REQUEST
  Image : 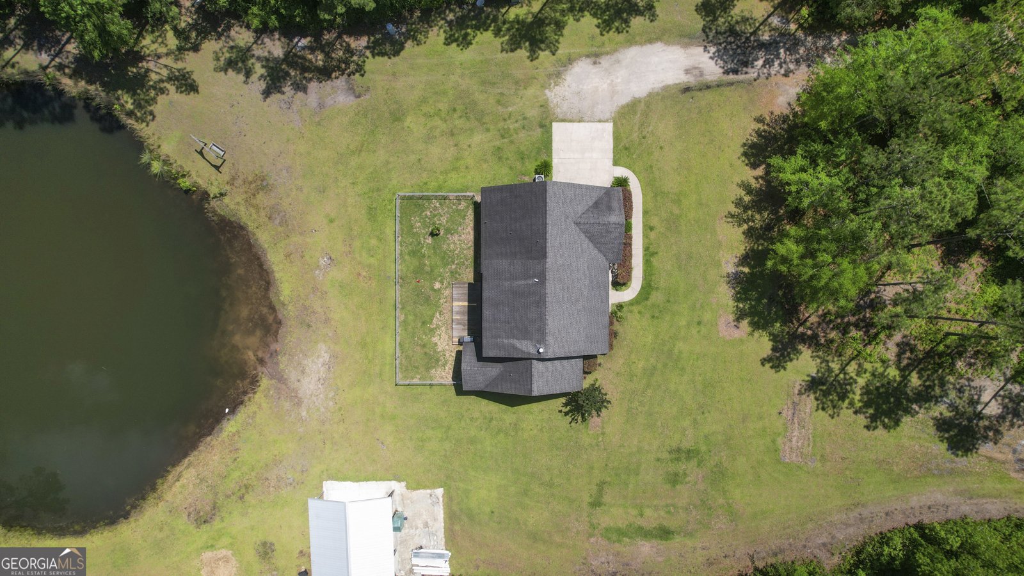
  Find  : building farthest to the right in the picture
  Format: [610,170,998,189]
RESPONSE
[461,181,625,395]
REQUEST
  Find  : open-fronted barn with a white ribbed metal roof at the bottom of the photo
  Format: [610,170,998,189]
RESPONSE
[308,489,398,576]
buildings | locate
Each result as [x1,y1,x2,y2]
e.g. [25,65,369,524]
[308,489,398,576]
[461,181,625,395]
